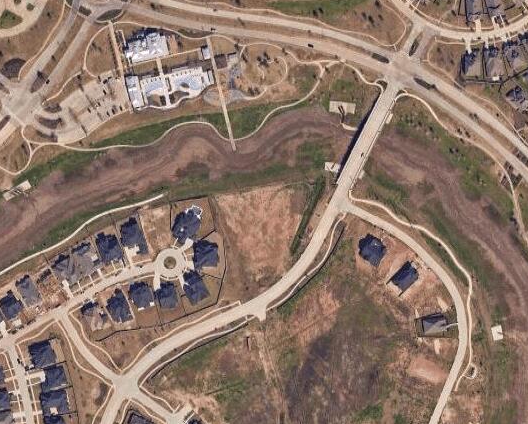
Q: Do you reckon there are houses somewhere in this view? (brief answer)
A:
Yes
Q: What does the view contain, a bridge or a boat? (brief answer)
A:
bridge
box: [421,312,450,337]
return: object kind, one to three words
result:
house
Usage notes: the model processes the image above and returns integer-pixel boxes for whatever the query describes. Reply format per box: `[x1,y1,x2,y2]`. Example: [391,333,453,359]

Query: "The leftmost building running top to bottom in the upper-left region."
[126,77,142,108]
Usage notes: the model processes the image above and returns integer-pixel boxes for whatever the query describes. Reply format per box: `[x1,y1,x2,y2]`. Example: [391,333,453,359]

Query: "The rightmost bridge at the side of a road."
[339,90,398,200]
